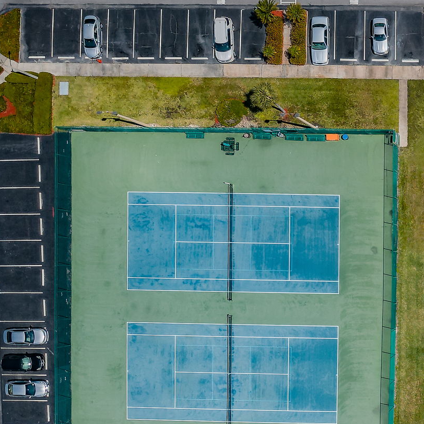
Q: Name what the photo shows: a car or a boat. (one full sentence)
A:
Visible in the photo is a car.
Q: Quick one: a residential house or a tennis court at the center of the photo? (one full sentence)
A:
There is a tennis court at the center of the photo.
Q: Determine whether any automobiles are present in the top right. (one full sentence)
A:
Yes, an automobile is visible in the top right.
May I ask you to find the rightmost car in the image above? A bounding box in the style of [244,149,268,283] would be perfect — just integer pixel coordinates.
[371,16,390,57]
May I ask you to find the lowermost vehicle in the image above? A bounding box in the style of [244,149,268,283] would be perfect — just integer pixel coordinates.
[5,379,52,399]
